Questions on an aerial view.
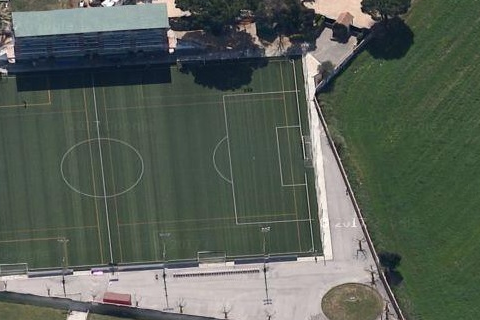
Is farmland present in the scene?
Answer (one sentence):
Yes, some farmland is visible.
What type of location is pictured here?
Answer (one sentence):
This looks like a sports ground.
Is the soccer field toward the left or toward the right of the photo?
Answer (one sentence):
It is on the left.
